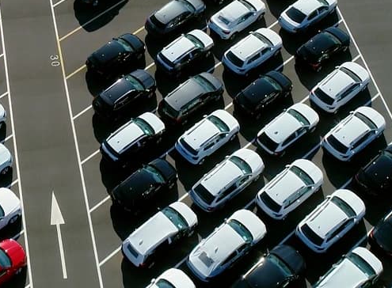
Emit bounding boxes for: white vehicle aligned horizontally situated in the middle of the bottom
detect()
[145,266,197,288]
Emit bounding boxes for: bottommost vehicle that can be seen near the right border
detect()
[311,243,386,288]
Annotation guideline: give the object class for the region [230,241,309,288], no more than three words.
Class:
car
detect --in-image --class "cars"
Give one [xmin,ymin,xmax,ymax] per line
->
[151,28,217,79]
[0,234,30,286]
[89,69,158,123]
[186,209,265,281]
[275,0,338,36]
[349,142,392,202]
[171,108,241,166]
[367,210,392,259]
[291,25,353,74]
[144,0,204,39]
[145,266,197,288]
[293,188,366,255]
[121,200,197,270]
[251,102,321,160]
[318,106,386,165]
[0,189,19,227]
[97,110,168,168]
[81,32,148,81]
[189,150,261,213]
[251,158,326,223]
[306,61,371,115]
[219,27,283,78]
[311,243,386,288]
[106,154,180,218]
[155,70,223,126]
[230,241,309,288]
[206,0,266,39]
[229,68,294,123]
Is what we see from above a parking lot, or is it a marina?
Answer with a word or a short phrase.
parking lot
